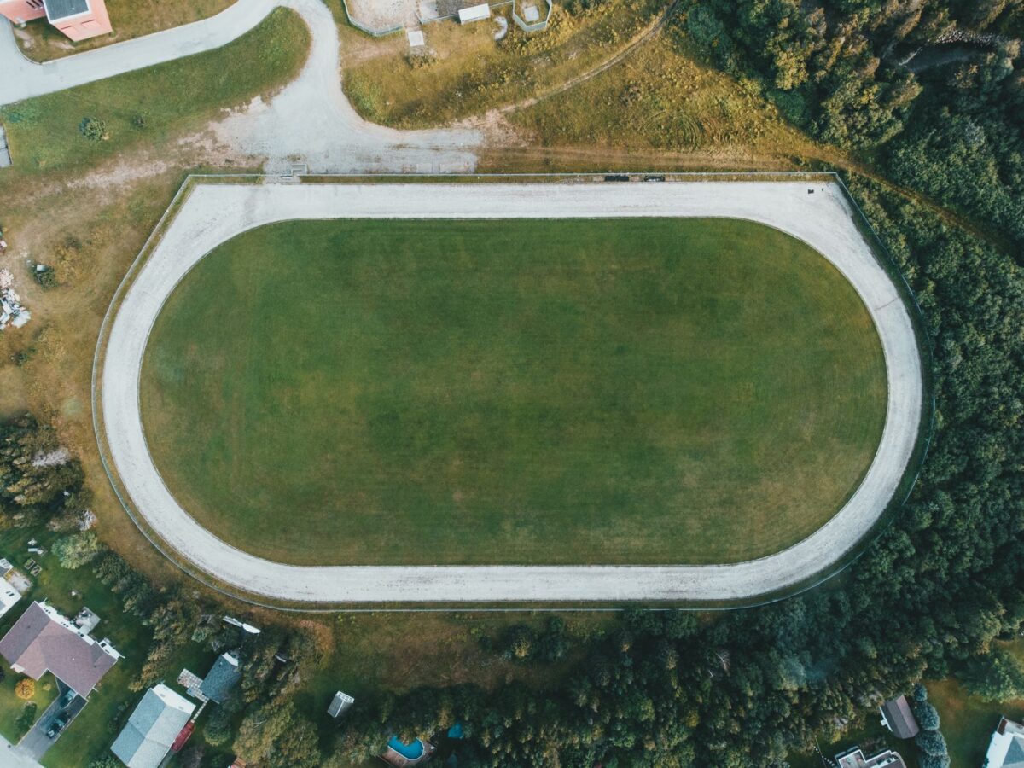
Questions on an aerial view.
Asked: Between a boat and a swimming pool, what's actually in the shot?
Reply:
swimming pool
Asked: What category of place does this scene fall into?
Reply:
sports ground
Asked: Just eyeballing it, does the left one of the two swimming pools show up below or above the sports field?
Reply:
below it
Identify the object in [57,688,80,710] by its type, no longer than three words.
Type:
car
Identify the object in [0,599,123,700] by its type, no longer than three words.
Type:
house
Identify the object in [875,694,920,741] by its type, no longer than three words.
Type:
shed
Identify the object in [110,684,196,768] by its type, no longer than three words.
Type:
house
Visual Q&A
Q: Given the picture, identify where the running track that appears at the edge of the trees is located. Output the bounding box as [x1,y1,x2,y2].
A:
[102,181,923,602]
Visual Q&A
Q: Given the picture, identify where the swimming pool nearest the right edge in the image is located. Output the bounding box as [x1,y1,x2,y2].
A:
[446,718,465,741]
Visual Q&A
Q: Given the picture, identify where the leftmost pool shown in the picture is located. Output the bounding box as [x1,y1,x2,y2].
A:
[387,725,423,759]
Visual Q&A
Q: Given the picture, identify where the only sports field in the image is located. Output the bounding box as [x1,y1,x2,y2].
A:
[140,218,887,565]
